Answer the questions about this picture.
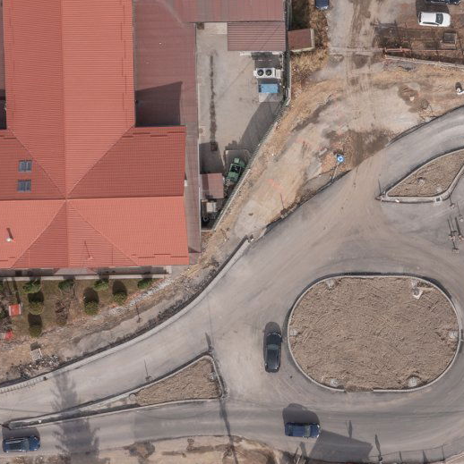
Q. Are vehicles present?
Yes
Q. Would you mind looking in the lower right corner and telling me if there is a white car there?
No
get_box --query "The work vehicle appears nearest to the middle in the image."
[223,154,247,185]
